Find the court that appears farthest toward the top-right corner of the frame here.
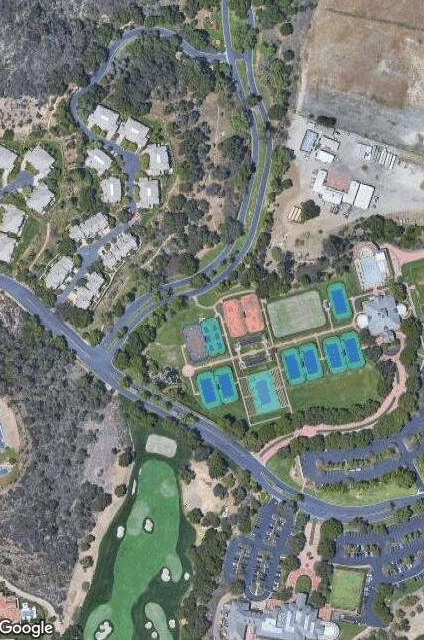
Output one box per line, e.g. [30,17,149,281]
[326,282,354,323]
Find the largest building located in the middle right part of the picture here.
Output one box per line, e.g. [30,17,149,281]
[360,292,405,342]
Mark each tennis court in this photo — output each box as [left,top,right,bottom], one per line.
[247,369,280,415]
[341,330,366,368]
[326,282,354,323]
[195,371,221,409]
[240,295,265,332]
[280,347,306,385]
[299,342,324,380]
[322,336,348,373]
[184,323,208,362]
[223,300,247,336]
[213,366,239,405]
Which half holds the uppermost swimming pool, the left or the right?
right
